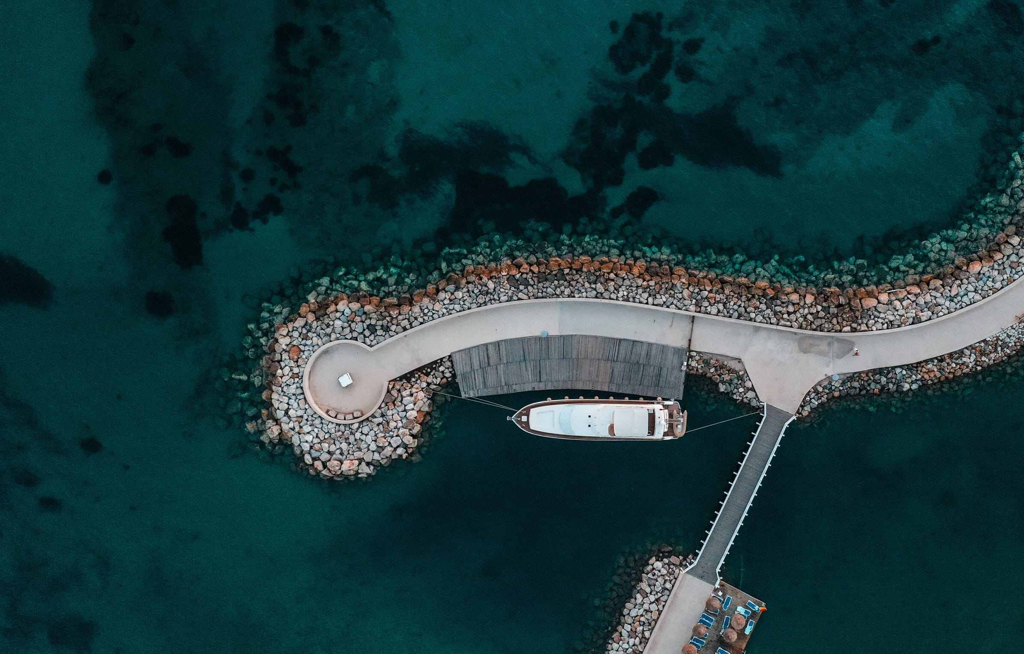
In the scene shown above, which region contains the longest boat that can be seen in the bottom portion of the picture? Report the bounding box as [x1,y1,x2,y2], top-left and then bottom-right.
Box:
[507,399,685,441]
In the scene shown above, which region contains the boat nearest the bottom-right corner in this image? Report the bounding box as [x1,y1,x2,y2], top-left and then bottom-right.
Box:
[673,411,687,437]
